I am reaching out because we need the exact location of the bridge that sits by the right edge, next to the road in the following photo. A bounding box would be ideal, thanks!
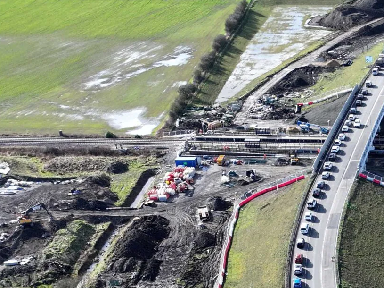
[303,78,384,203]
